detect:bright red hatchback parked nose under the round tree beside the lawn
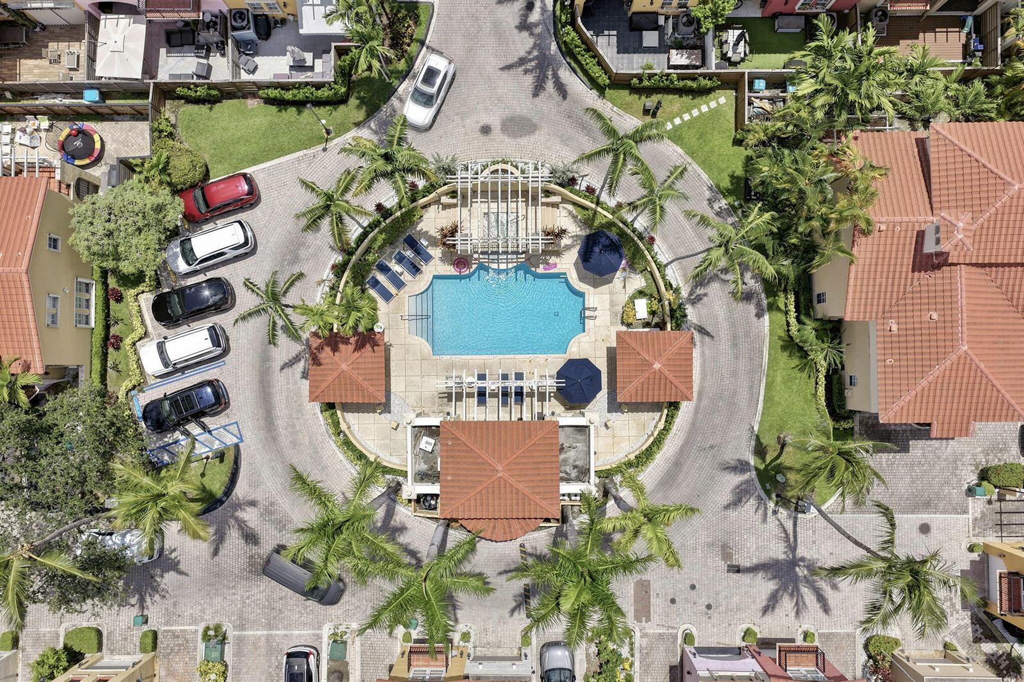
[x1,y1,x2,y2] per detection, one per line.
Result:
[177,174,260,225]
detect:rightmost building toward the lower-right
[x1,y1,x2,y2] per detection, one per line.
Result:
[980,543,1024,622]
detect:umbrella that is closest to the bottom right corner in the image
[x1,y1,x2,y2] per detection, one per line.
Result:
[555,358,600,403]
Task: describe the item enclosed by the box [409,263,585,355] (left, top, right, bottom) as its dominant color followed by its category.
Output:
blue swimming pool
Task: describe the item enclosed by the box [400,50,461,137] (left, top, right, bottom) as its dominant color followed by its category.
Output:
white car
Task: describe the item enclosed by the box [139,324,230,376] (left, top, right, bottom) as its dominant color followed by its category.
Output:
white car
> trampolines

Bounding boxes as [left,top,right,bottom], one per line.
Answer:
[42,115,108,170]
